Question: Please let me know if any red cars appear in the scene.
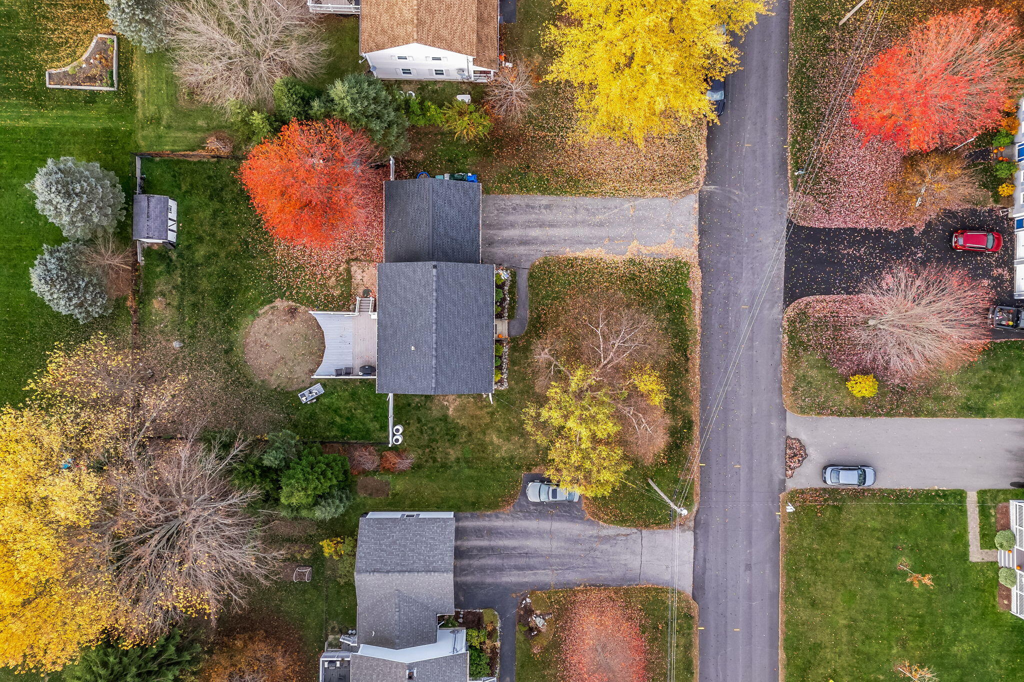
Yes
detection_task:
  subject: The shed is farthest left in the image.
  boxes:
[135,194,181,253]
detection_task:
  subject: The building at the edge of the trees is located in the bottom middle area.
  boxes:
[349,512,470,682]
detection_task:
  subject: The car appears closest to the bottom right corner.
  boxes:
[820,463,875,488]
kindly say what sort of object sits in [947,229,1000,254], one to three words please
car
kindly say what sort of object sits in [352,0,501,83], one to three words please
house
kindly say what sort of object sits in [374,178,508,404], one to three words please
house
